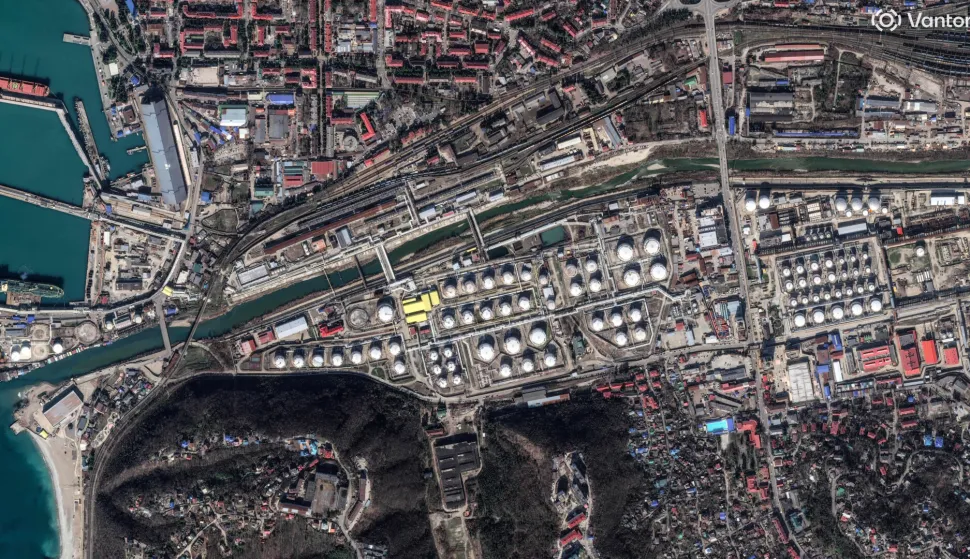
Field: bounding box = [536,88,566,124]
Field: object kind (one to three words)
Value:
building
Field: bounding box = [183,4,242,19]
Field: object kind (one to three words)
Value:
building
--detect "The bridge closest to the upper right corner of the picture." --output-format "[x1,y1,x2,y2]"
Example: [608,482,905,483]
[704,0,753,340]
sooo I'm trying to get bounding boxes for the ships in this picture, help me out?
[0,281,64,298]
[0,77,49,95]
